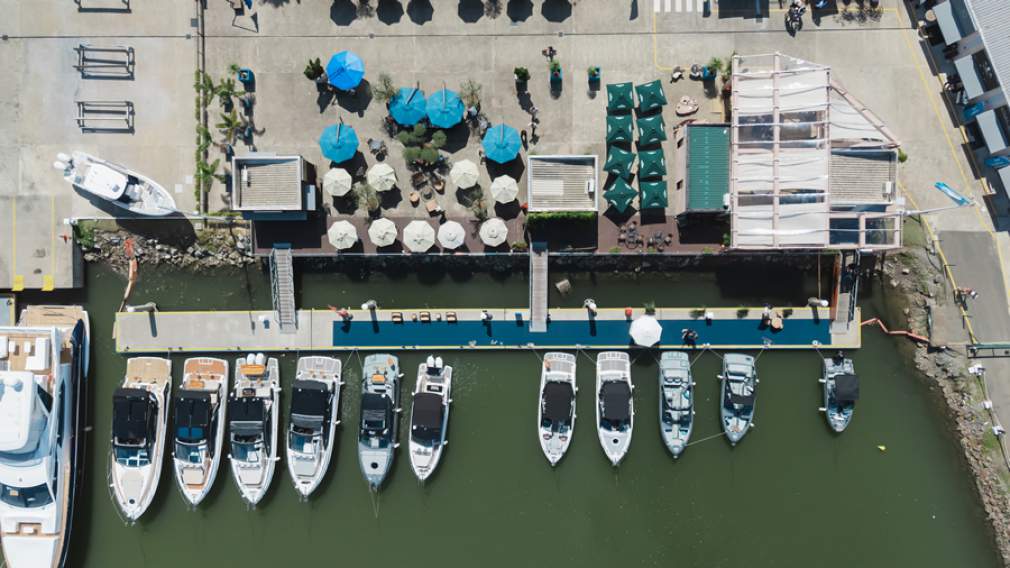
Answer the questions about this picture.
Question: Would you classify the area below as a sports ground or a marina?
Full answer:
It's a marina.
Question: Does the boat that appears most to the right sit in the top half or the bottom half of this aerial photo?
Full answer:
The boat that appears most to the right sits in the bottom half of the picture.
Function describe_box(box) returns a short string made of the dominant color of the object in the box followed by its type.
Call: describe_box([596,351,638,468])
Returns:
white boat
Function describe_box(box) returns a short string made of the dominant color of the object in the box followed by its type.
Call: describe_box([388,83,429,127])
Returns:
blue umbrella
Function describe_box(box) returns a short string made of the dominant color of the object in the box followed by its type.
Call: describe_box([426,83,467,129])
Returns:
blue umbrella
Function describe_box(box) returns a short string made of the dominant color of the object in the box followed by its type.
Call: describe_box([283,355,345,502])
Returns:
white boat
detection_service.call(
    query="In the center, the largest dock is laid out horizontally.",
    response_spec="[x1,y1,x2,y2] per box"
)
[115,311,861,350]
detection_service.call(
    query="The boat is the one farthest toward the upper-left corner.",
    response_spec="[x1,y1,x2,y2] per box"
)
[51,149,181,215]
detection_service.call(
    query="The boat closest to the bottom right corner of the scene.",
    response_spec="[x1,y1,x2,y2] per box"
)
[816,352,861,435]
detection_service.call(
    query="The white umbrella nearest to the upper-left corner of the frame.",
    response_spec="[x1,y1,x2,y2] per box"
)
[322,168,354,197]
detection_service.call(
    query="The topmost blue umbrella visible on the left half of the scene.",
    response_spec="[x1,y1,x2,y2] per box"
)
[326,53,366,94]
